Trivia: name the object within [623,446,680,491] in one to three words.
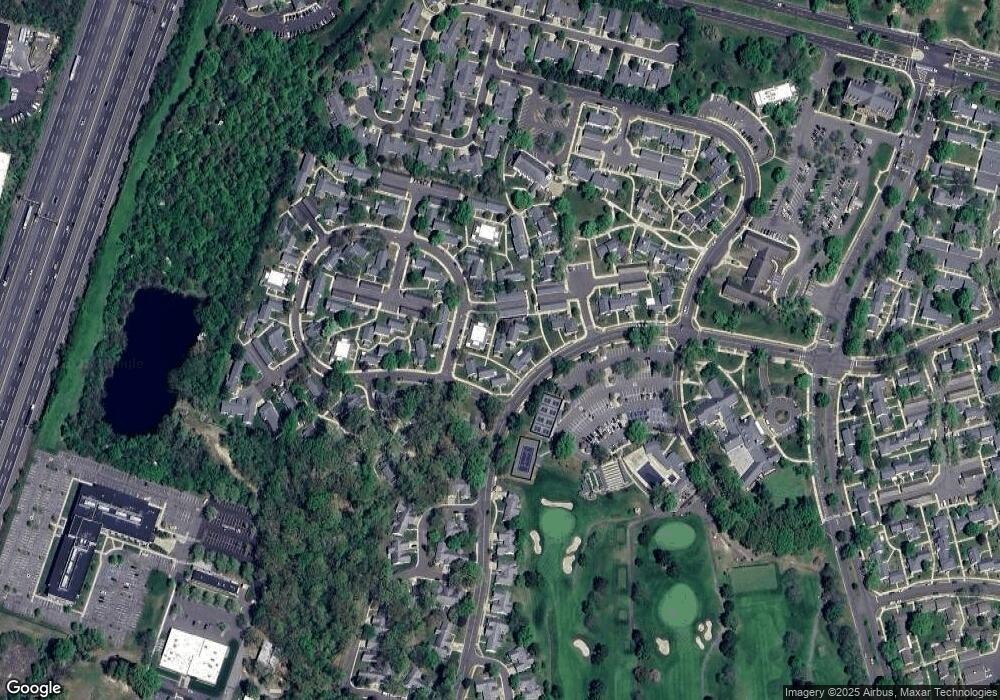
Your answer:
swimming pool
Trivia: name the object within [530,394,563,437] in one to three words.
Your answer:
sports court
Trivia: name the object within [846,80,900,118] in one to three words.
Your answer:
building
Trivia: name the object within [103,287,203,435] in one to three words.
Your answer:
pond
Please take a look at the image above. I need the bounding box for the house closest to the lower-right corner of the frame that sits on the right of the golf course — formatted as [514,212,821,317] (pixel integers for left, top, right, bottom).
[962,665,990,686]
